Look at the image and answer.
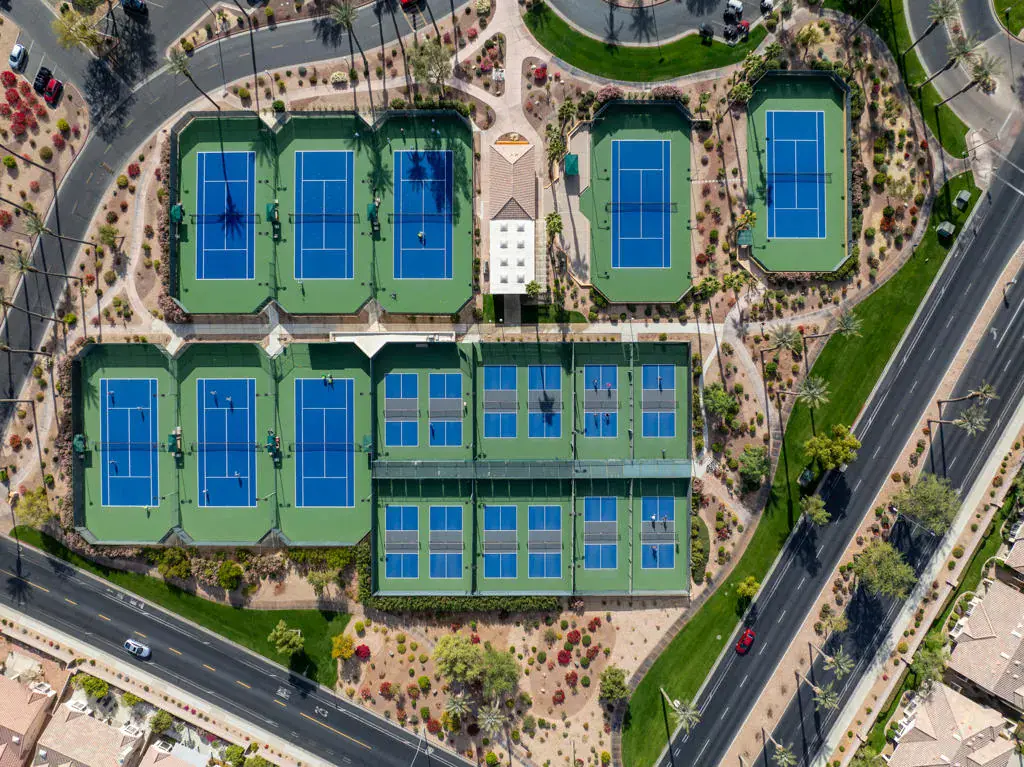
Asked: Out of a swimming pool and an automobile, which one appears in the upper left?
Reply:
automobile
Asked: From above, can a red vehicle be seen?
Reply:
Yes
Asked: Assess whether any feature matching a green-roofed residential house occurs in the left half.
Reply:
No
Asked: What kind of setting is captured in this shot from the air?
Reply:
sports ground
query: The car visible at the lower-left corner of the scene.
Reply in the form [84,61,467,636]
[122,641,149,661]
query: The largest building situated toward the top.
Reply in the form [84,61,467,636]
[489,144,535,296]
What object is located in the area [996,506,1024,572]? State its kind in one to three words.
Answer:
house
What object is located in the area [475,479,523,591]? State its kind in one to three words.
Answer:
sports court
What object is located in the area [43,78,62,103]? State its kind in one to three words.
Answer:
car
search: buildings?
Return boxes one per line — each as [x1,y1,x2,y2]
[140,737,217,767]
[32,696,148,767]
[945,579,1024,710]
[883,679,1011,767]
[996,506,1024,572]
[489,144,535,296]
[0,669,63,767]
